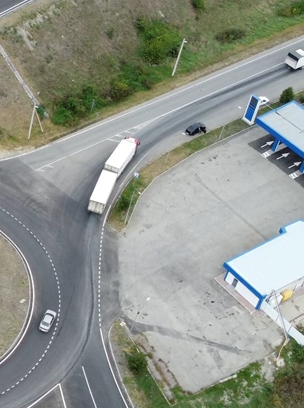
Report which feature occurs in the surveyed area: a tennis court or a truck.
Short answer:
truck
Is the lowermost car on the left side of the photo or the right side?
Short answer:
left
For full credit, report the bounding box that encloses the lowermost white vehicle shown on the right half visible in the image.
[256,94,273,106]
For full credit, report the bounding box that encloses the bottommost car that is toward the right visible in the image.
[184,122,209,137]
